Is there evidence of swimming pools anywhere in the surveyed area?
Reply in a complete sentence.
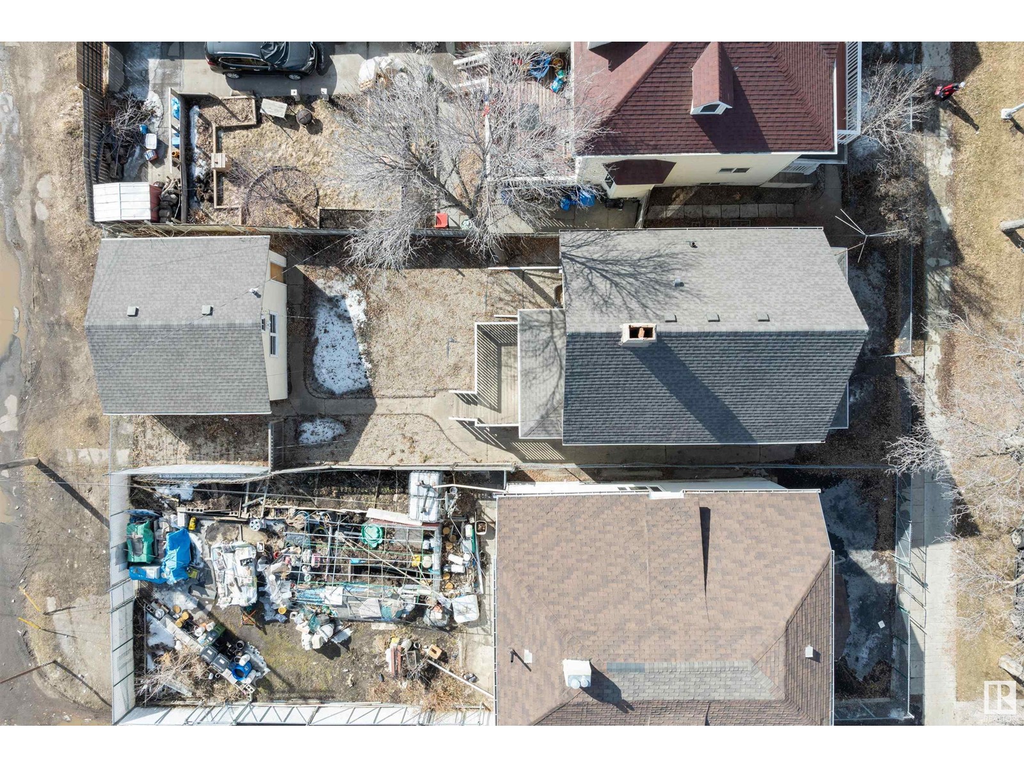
No, no swimming pool is visible in the view.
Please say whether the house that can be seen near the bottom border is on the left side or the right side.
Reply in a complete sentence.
You can find the house that can be seen near the bottom border on the right side of the picture.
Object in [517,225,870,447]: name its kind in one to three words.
house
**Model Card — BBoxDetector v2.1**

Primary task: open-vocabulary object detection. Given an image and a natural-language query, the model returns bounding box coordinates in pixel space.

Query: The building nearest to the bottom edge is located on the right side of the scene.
[491,481,850,768]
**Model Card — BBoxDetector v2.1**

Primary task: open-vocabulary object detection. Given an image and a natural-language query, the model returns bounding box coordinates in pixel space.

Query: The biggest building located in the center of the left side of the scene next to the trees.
[82,236,288,416]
